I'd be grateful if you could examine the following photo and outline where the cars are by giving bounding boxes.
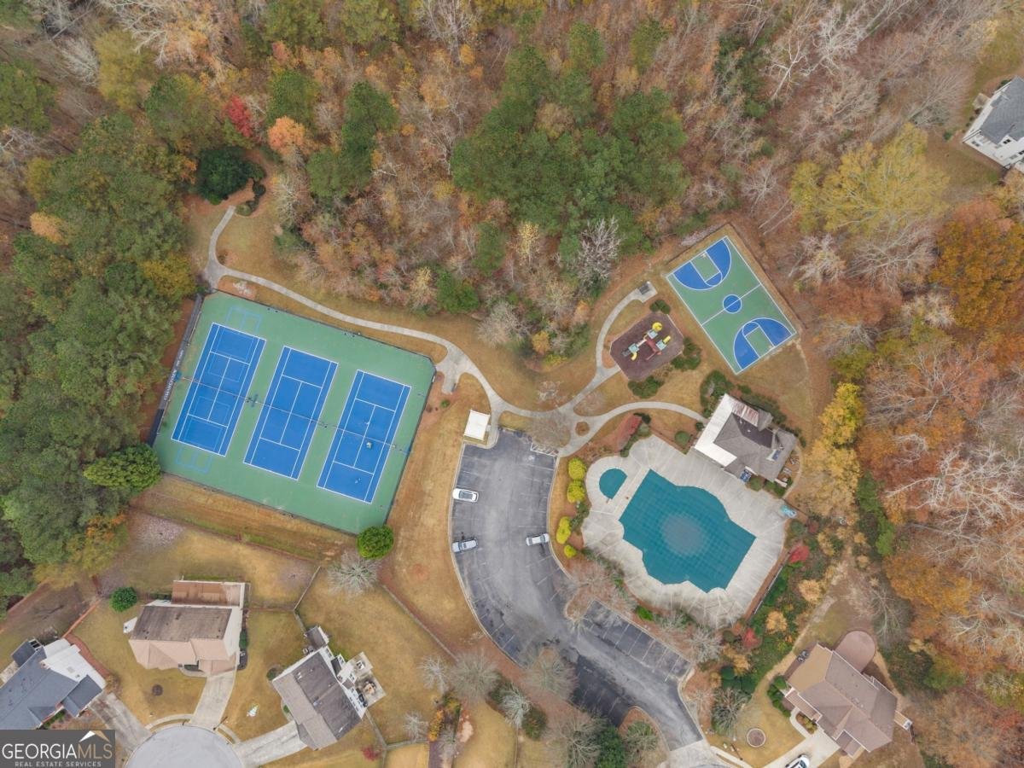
[453,488,478,502]
[525,533,550,546]
[452,538,478,552]
[786,754,812,768]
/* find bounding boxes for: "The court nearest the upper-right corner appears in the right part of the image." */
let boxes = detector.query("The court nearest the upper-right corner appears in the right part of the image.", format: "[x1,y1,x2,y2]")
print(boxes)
[665,234,798,376]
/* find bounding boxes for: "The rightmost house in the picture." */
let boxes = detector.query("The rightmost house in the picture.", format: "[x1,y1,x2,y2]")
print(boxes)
[964,77,1024,173]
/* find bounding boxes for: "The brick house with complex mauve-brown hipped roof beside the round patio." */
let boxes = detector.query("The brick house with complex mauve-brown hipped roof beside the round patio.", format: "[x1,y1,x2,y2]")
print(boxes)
[782,643,917,758]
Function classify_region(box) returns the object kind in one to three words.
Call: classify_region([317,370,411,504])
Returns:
tennis court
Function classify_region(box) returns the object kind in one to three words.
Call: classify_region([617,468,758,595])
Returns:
swimming pool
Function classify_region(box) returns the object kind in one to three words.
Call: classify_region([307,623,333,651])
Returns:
shed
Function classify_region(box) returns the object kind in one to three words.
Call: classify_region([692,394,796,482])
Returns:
building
